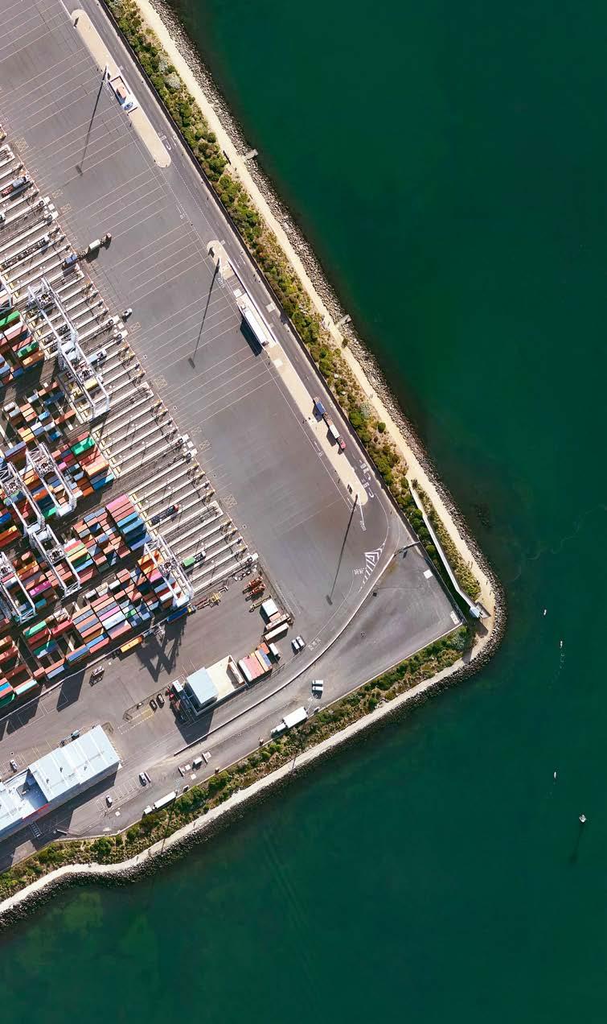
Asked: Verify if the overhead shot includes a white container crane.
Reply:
Yes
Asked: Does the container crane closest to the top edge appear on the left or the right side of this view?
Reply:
left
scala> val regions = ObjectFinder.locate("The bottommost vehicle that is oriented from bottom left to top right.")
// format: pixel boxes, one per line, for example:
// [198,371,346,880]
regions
[143,792,176,815]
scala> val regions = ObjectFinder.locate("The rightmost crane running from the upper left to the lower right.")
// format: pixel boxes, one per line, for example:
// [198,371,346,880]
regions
[141,536,197,611]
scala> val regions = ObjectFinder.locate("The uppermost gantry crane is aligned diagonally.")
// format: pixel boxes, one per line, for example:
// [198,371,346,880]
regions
[25,277,81,354]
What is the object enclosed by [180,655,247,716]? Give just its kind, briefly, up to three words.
building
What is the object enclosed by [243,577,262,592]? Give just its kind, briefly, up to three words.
work vehicle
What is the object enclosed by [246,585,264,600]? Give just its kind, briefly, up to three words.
work vehicle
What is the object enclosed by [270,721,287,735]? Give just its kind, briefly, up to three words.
vehicle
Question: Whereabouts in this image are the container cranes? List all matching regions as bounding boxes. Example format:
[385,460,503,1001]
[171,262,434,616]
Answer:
[25,277,81,354]
[141,536,197,611]
[0,463,46,540]
[28,523,85,603]
[22,443,79,520]
[57,338,113,417]
[0,552,38,627]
